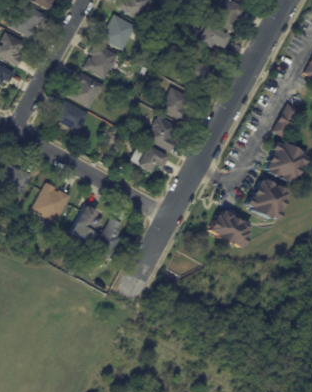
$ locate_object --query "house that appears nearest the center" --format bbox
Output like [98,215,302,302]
[138,148,166,172]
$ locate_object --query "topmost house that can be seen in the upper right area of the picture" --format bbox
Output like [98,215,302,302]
[220,0,244,26]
